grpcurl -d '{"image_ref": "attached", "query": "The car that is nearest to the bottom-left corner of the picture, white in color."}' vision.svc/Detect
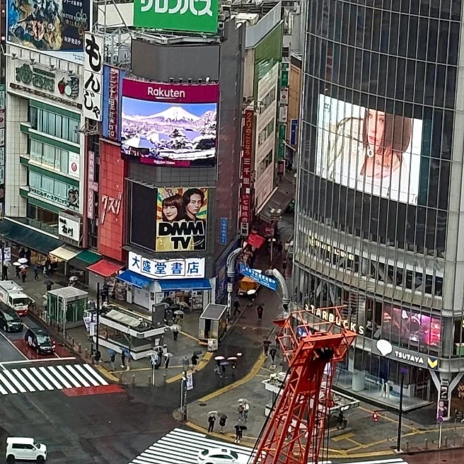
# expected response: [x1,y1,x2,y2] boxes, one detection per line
[4,436,49,463]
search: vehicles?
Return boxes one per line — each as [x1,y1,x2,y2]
[4,436,49,463]
[0,299,28,330]
[194,445,252,464]
[0,273,32,309]
[22,325,60,352]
